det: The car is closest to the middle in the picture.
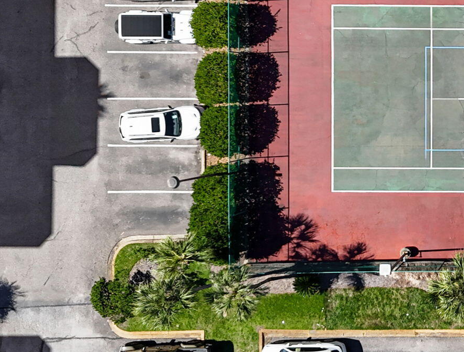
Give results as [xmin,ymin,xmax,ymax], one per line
[119,102,204,144]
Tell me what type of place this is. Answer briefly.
sports ground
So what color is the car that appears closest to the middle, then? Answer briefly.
white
